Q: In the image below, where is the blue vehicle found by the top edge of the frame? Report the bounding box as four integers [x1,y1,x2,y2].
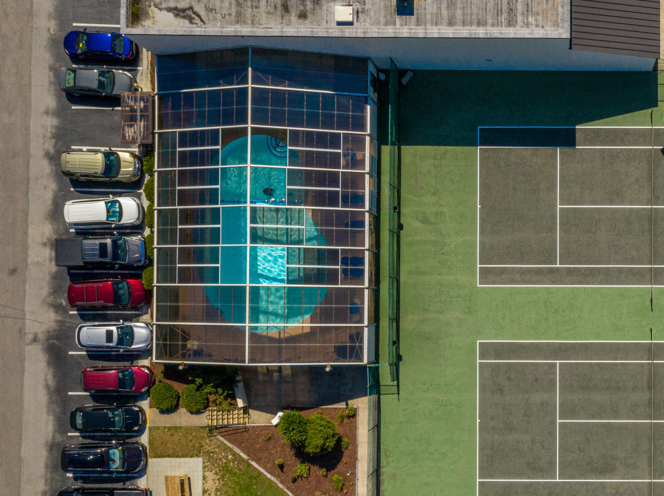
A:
[65,23,138,61]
